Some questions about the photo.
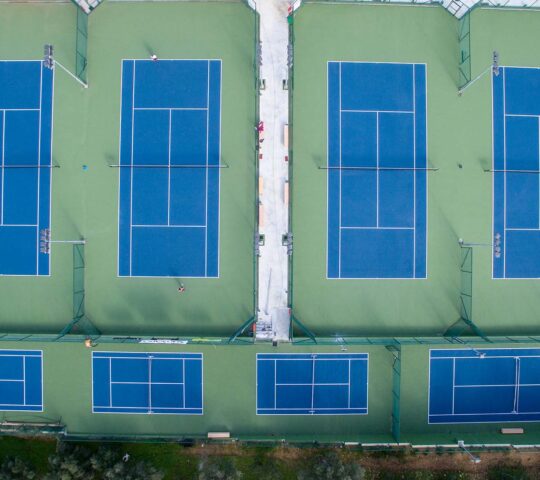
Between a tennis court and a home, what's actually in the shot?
tennis court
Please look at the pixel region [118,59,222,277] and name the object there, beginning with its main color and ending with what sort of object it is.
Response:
blue tennis court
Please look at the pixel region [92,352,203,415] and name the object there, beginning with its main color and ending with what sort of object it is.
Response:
blue tennis court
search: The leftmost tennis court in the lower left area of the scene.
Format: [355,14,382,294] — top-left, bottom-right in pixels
[0,350,43,411]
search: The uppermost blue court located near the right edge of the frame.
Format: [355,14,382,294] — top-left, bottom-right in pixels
[492,66,540,279]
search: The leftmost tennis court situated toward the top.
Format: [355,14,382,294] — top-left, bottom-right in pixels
[0,60,54,276]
